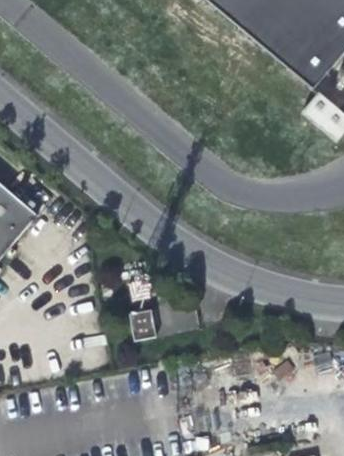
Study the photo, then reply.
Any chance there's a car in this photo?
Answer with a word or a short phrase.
Yes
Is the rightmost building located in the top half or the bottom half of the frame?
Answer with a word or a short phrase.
top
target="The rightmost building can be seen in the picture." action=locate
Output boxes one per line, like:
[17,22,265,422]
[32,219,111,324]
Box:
[302,92,344,144]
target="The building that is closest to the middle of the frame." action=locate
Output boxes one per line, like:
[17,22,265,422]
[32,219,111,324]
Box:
[130,308,158,344]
